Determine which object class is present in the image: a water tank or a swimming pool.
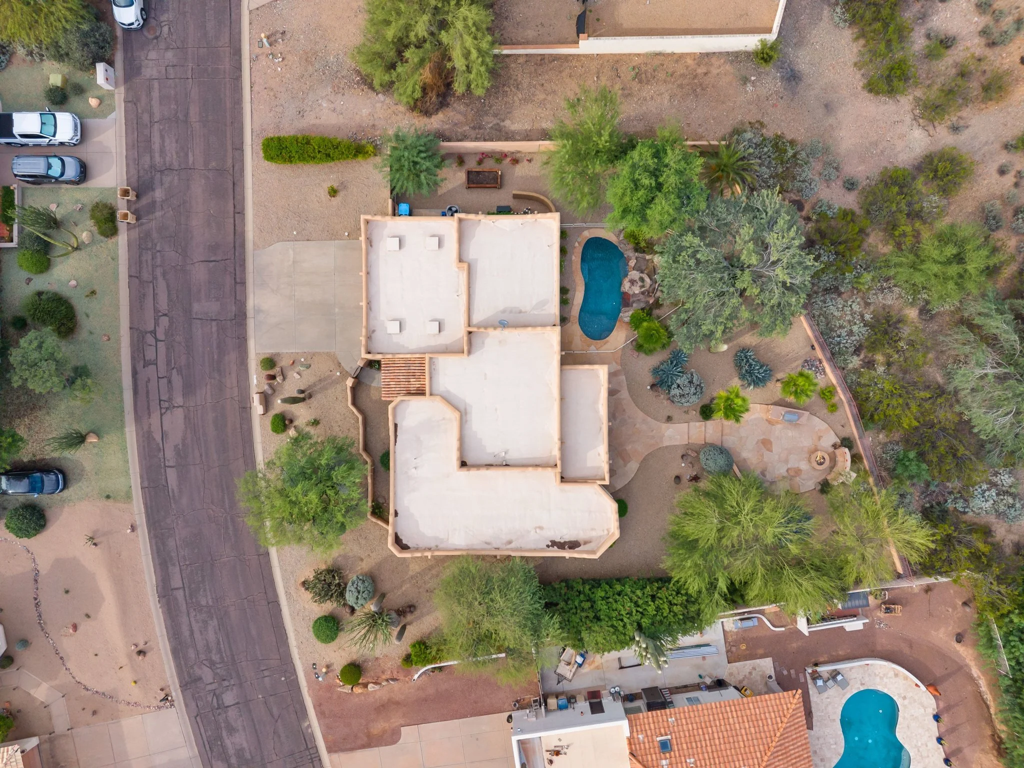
swimming pool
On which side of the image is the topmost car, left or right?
left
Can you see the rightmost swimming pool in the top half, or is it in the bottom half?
bottom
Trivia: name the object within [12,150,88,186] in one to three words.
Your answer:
car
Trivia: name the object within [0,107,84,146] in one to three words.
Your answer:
truck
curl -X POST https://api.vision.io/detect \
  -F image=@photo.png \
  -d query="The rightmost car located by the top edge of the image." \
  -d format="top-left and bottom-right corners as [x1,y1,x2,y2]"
[113,0,152,31]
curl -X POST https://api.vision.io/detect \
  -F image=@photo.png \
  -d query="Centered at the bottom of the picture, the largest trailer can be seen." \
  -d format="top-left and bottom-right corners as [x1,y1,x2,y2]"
[551,644,588,691]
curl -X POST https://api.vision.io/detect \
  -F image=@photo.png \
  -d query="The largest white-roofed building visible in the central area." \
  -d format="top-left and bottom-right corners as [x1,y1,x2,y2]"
[356,209,619,562]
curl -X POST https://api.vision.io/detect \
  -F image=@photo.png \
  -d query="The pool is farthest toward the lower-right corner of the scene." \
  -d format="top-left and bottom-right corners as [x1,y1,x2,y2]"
[834,690,911,768]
